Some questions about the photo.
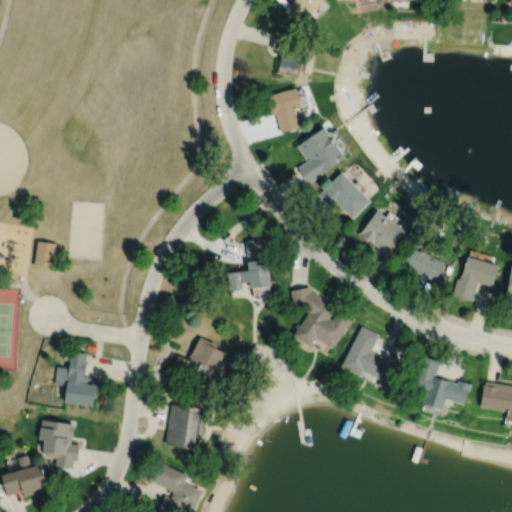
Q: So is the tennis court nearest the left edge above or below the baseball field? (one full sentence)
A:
Looking at the photo, you'll find the tennis court nearest the left edge below the baseball field.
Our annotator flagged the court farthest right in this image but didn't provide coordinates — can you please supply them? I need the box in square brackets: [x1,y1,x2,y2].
[70,202,105,259]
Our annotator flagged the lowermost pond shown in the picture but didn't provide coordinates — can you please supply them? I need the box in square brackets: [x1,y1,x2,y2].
[228,408,512,512]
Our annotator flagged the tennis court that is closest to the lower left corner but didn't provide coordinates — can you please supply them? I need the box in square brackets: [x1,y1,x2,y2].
[0,290,20,371]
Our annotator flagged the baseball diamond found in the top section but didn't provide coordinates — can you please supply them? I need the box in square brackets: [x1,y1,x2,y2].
[0,124,28,195]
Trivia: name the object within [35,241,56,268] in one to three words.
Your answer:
building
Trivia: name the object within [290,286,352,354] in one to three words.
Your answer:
house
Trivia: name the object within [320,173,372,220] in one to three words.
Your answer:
house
